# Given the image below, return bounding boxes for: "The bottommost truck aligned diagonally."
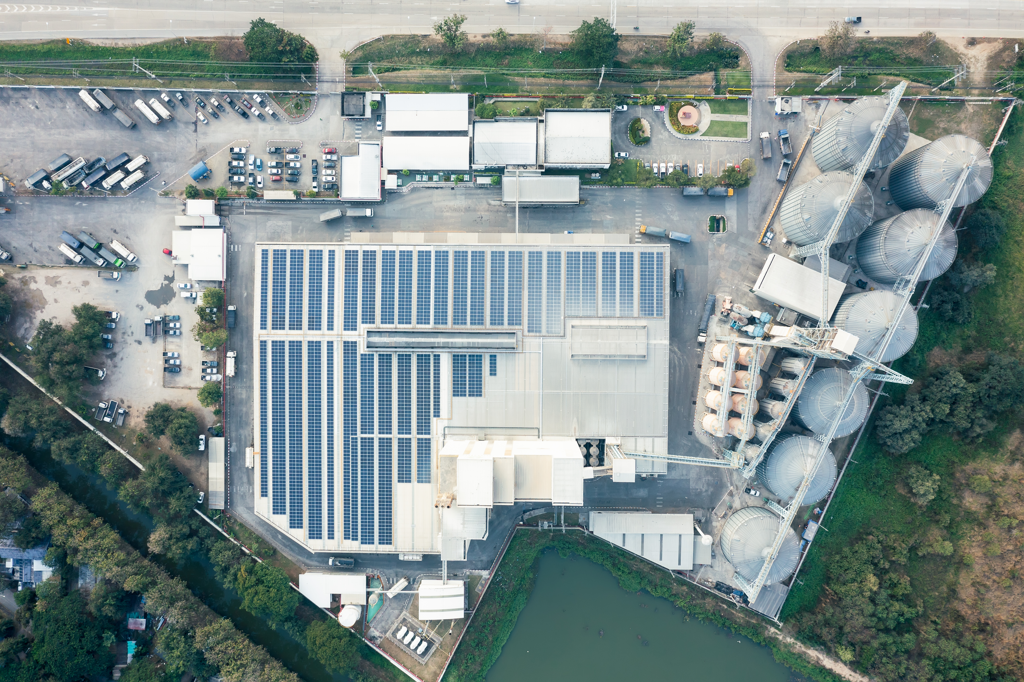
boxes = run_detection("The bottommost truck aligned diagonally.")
[387,573,413,598]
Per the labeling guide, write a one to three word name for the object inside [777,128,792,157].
vehicle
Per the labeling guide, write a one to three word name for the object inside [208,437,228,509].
shed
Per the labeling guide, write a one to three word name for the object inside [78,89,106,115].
truck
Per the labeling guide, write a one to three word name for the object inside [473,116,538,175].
building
